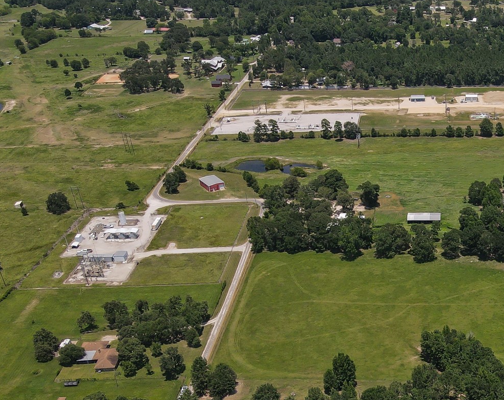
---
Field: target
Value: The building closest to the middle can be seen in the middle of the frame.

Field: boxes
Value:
[200,175,225,193]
